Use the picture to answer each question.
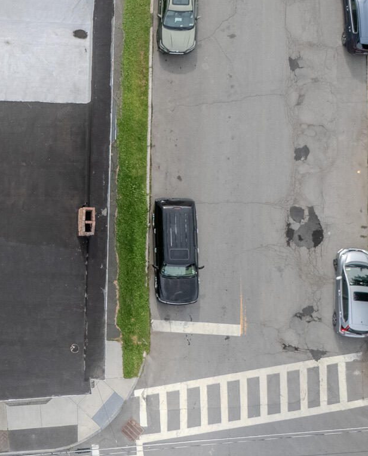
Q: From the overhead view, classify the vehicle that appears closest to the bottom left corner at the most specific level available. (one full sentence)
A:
It looks like the vehicle that appears closest to the bottom left corner is a car.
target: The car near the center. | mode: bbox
[151,195,204,308]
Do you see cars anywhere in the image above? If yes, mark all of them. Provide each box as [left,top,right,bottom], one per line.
[339,0,368,56]
[155,0,202,55]
[330,244,368,341]
[151,195,204,308]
